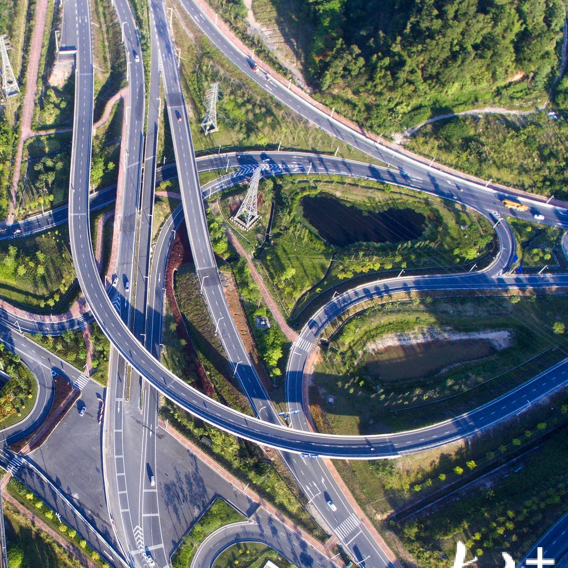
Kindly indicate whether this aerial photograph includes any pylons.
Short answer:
Yes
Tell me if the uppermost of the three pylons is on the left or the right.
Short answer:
left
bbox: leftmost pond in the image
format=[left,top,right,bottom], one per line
[300,192,425,246]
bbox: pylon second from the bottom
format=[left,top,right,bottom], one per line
[200,79,222,134]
